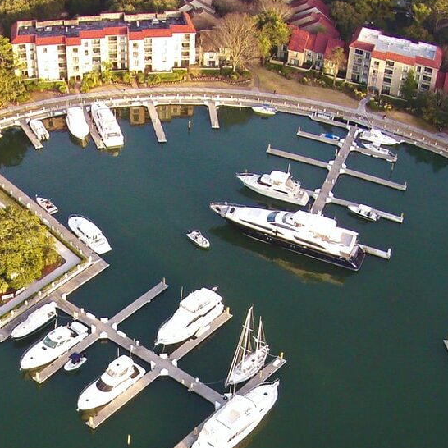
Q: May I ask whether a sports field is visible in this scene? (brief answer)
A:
No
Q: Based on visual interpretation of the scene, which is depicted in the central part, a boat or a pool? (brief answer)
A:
boat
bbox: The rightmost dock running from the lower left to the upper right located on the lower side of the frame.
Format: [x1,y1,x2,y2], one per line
[229,357,290,398]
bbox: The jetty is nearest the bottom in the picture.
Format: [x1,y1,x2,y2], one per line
[172,401,225,448]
